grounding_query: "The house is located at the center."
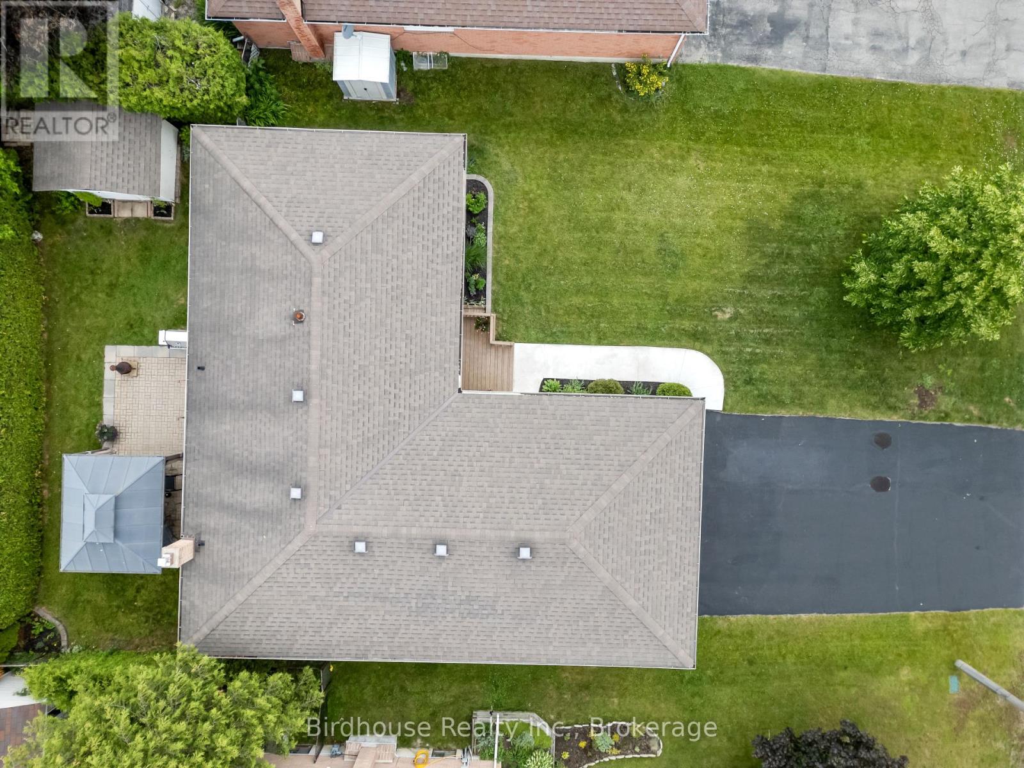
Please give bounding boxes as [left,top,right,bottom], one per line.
[158,125,705,669]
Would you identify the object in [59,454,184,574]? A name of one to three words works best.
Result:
gazebo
